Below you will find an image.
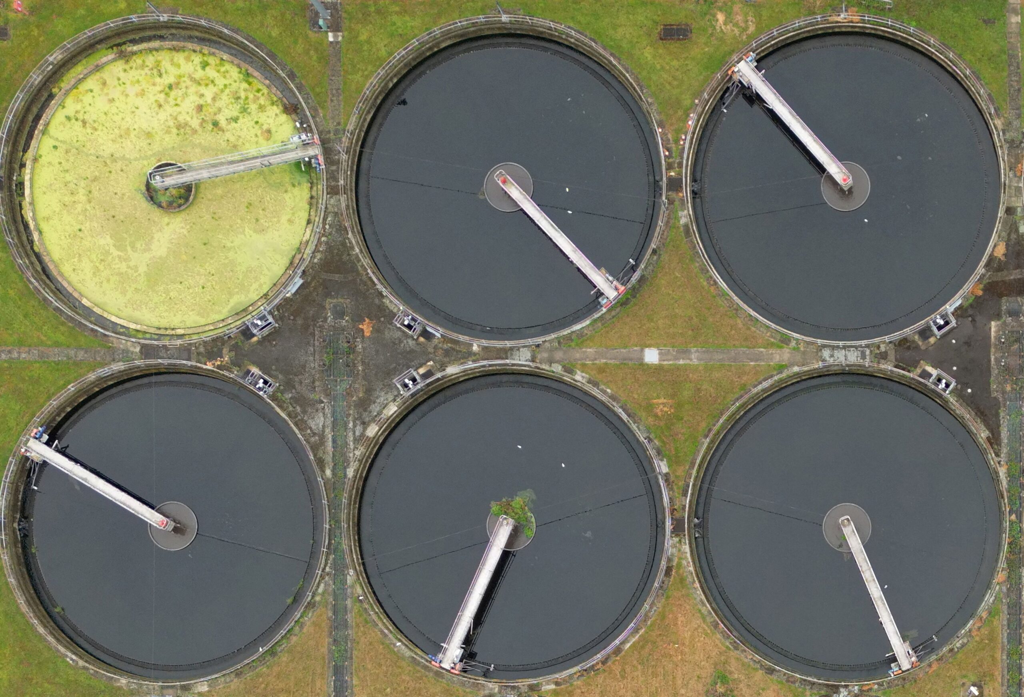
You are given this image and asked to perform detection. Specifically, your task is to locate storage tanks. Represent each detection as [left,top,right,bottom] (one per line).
[340,12,672,350]
[0,13,332,351]
[342,357,673,690]
[683,359,1011,692]
[682,12,1010,349]
[0,358,333,691]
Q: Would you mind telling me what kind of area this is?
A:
industrial area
